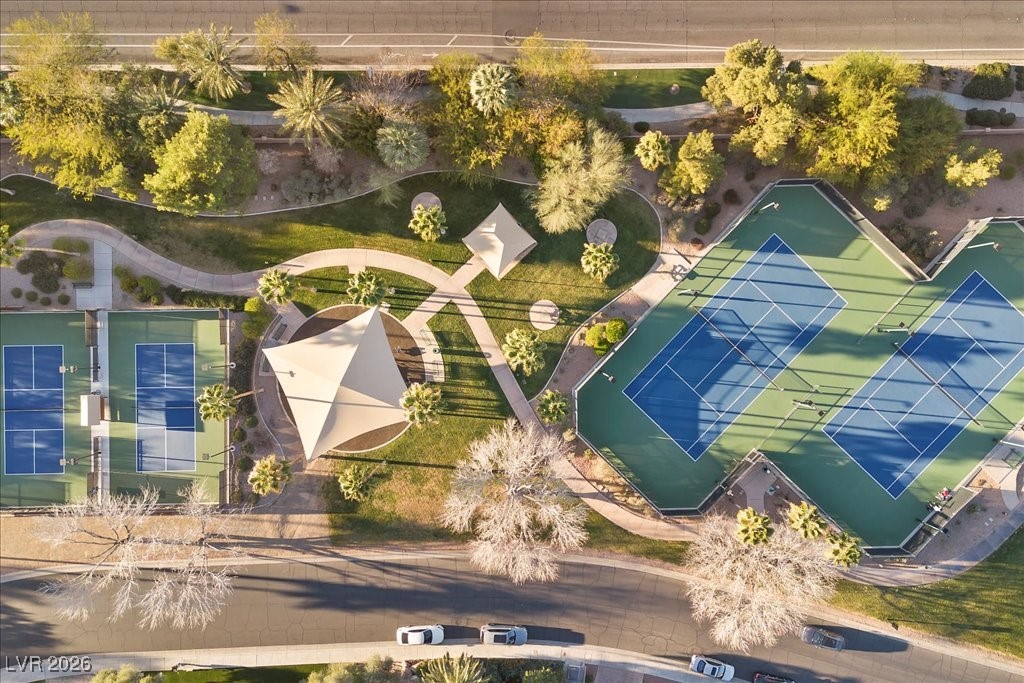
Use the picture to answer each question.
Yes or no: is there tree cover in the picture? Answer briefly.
Yes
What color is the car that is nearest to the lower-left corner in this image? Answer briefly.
white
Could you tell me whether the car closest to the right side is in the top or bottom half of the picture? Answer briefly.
bottom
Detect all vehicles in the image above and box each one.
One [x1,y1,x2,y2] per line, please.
[398,625,442,649]
[689,654,735,681]
[754,669,800,683]
[801,624,846,652]
[481,624,525,648]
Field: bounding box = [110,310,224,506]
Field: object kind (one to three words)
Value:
sports court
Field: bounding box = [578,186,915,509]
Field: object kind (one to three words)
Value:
tennis court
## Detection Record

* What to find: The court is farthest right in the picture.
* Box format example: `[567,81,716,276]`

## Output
[758,222,1024,547]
